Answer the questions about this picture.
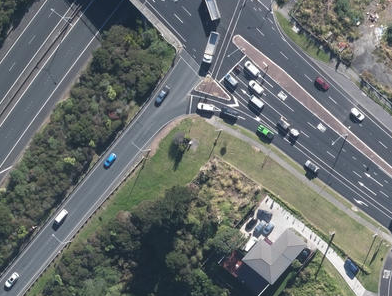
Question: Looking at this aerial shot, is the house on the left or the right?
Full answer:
The house appears in the right half of the scene.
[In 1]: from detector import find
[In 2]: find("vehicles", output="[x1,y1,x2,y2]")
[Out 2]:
[4,273,18,288]
[198,103,214,110]
[249,80,264,95]
[156,86,170,102]
[276,116,292,130]
[203,32,218,63]
[256,124,274,138]
[250,94,266,109]
[54,208,70,224]
[262,222,274,235]
[224,73,239,86]
[104,153,117,166]
[350,107,365,122]
[252,220,266,234]
[256,210,272,220]
[220,106,238,118]
[244,217,258,232]
[344,260,358,274]
[244,61,260,76]
[304,160,320,173]
[298,248,310,262]
[314,77,330,91]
